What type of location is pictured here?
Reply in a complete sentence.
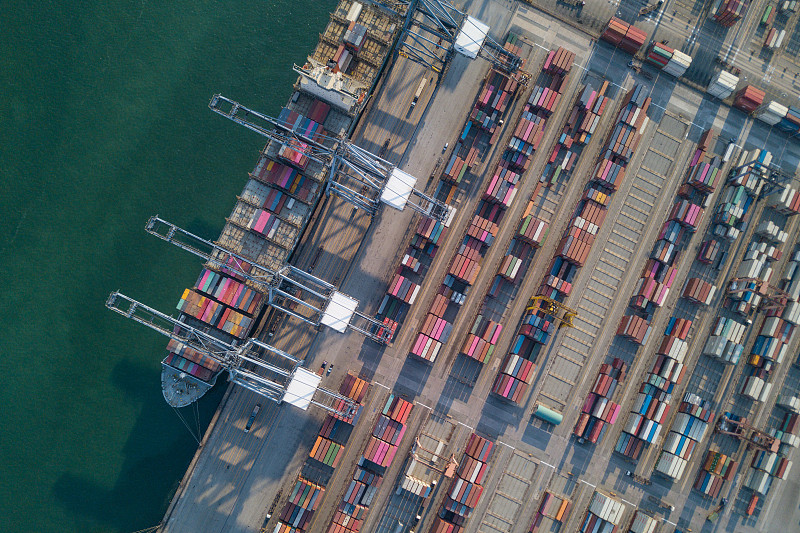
What you see here is a port.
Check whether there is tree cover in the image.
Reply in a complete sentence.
No, the scene doesn't show any tree cover.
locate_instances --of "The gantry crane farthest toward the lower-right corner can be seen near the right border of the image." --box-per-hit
[708,405,777,452]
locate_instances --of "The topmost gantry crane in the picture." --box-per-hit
[391,0,537,81]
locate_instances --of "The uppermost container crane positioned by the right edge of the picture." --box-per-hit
[717,159,788,207]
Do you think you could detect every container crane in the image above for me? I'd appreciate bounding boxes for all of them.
[717,159,788,207]
[391,0,537,81]
[101,287,359,423]
[140,210,396,347]
[714,270,784,308]
[517,291,580,331]
[203,86,453,224]
[708,405,777,452]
